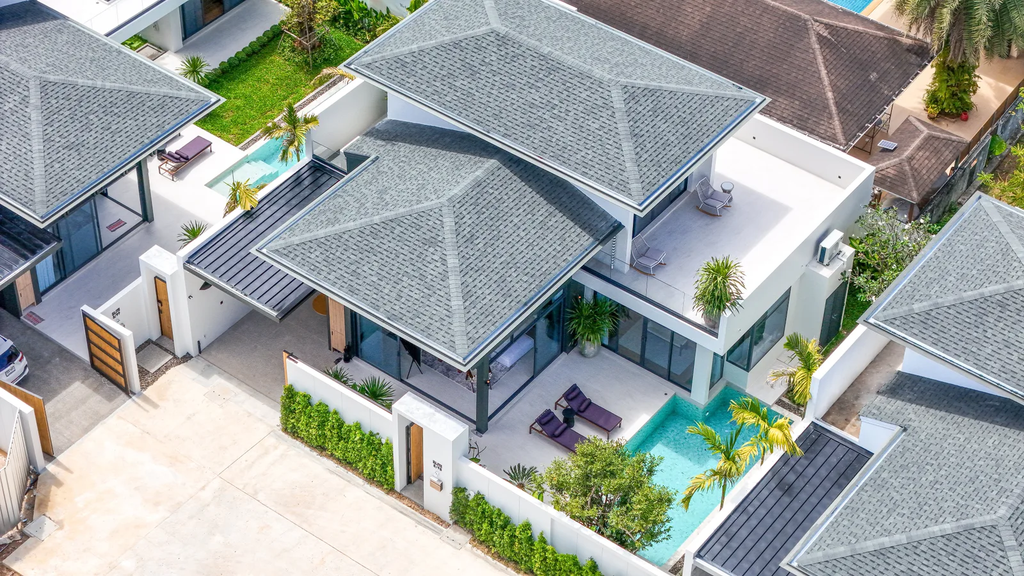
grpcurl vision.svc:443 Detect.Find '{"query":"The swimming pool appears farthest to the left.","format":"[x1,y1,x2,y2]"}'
[205,122,304,205]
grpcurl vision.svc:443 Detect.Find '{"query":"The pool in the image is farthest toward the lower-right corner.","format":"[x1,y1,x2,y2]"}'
[600,389,794,567]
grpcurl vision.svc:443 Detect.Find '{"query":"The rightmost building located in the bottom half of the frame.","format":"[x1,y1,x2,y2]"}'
[693,189,1024,576]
